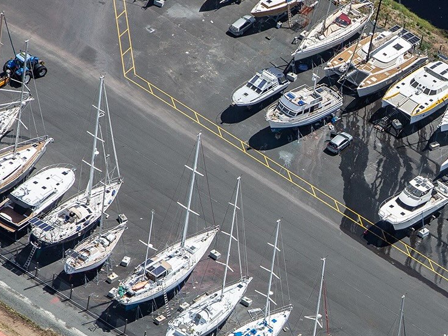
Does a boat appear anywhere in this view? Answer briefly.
Yes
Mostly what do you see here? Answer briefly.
paved ground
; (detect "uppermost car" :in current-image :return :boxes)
[228,13,258,33]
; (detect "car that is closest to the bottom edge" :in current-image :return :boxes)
[326,131,352,151]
